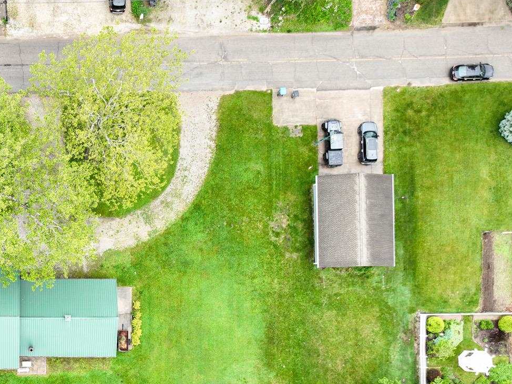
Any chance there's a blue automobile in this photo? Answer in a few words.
No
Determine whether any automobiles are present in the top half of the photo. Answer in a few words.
Yes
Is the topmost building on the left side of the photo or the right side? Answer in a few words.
right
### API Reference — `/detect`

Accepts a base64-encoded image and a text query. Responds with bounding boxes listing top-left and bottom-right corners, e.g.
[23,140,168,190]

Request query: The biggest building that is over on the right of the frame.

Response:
[306,170,393,266]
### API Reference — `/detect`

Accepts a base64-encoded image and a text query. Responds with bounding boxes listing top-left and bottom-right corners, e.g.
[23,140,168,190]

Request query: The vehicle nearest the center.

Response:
[321,119,345,169]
